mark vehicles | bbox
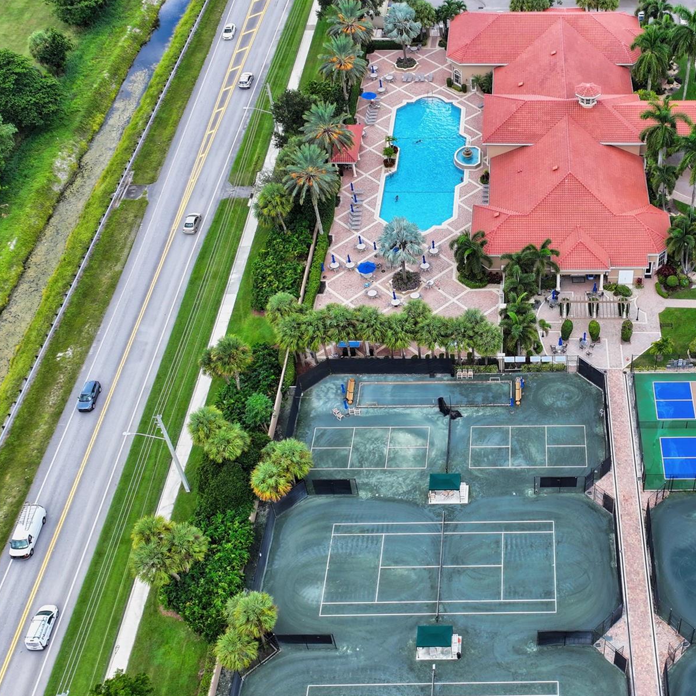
[238,72,255,88]
[222,23,236,39]
[182,211,202,234]
[23,603,60,649]
[77,378,103,411]
[11,498,47,553]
